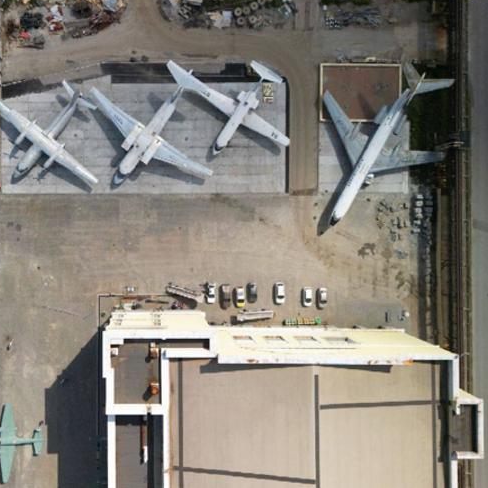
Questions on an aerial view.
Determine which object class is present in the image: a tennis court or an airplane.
airplane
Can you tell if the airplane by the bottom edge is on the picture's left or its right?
left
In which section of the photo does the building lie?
bottom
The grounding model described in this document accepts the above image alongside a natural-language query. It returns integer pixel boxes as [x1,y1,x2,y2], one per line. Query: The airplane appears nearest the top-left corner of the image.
[0,77,101,183]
